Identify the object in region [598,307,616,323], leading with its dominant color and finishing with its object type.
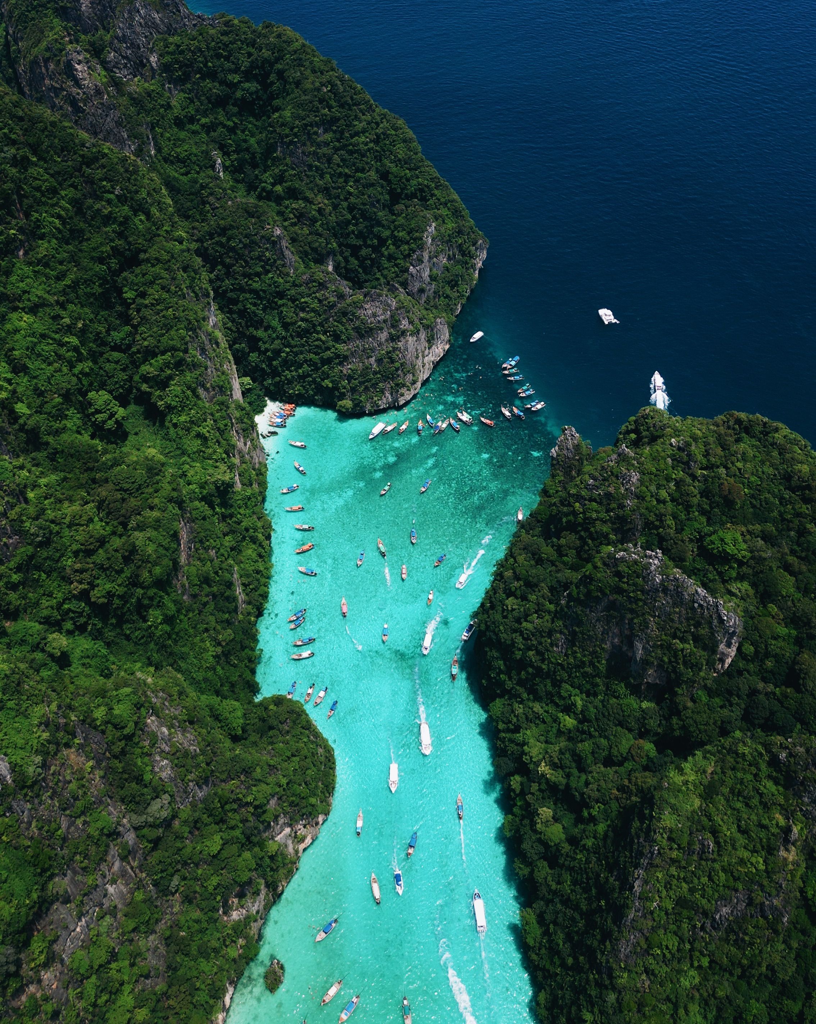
white boat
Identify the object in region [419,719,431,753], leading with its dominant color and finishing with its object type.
white boat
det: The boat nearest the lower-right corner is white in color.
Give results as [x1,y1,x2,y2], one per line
[473,887,487,933]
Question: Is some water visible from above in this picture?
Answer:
Yes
